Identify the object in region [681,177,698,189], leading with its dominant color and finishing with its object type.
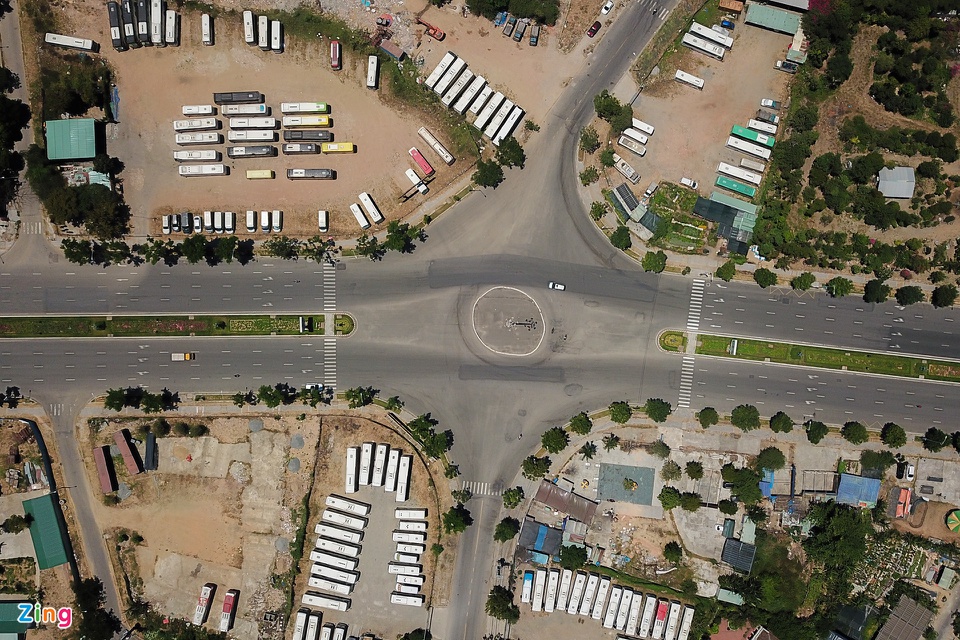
white vehicle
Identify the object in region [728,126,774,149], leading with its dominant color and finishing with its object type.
green bus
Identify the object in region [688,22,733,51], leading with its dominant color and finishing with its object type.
white bus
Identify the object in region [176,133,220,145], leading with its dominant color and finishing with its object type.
white vehicle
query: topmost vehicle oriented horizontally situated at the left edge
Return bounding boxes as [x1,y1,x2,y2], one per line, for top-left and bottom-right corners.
[44,33,98,52]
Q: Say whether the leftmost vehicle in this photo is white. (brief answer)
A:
Yes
